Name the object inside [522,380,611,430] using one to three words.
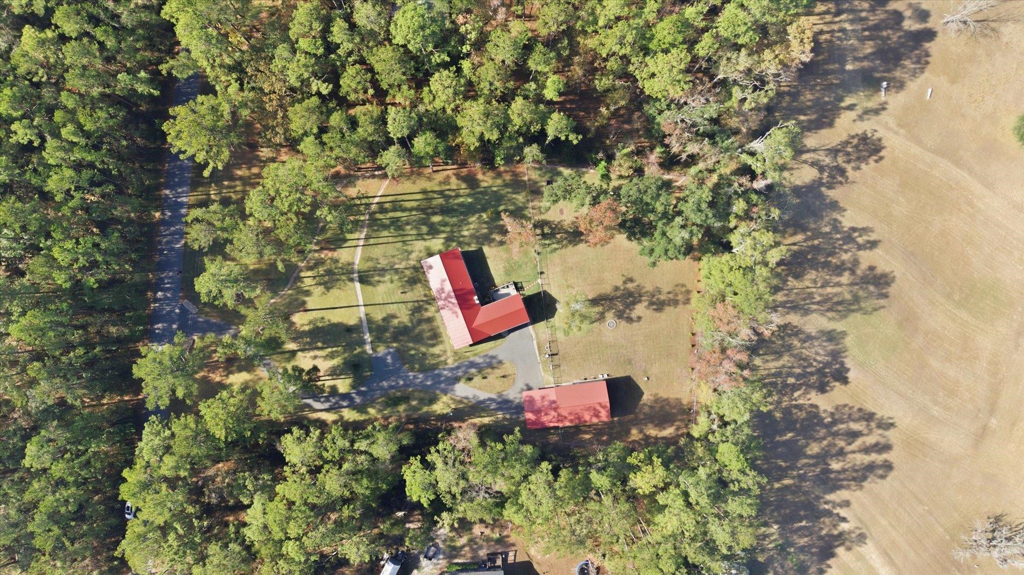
barn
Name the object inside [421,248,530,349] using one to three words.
house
